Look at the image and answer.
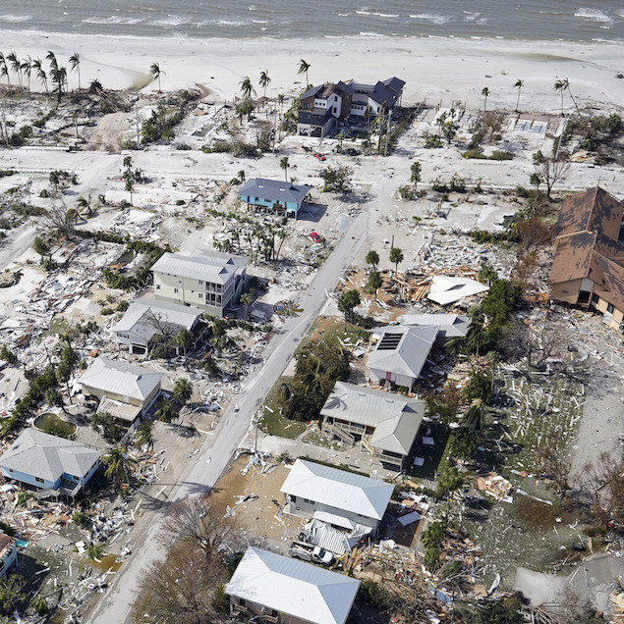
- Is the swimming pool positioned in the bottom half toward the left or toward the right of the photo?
left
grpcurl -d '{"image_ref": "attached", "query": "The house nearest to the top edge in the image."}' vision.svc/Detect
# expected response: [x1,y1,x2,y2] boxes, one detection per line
[297,74,408,136]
